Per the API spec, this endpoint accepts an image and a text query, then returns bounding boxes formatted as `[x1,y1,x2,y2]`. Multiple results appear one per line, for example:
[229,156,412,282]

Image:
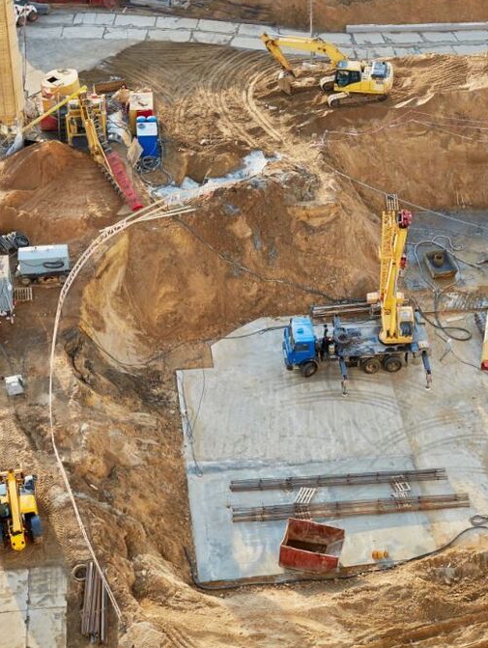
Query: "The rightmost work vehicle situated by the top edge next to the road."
[256,29,395,106]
